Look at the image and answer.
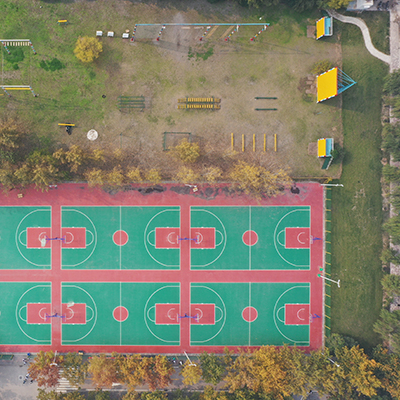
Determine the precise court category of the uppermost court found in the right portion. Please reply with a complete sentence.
The uppermost court found in the right portion in the image is a basketball court.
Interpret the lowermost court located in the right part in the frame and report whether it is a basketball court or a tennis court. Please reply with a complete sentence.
The lowermost court located in the right part appears to be a basketball court.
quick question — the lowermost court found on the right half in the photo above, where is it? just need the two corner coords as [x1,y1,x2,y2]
[190,282,310,345]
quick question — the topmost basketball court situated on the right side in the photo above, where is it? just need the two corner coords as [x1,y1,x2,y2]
[190,206,310,269]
